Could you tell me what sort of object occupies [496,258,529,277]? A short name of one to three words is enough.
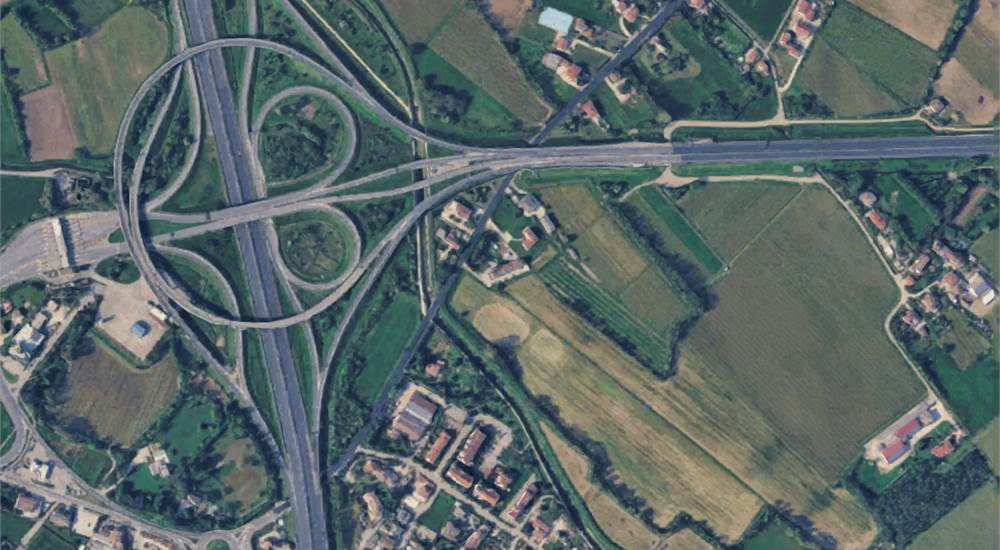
house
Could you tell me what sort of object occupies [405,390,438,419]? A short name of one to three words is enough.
building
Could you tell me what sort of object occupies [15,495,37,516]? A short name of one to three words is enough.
house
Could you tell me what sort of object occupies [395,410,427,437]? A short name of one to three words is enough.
building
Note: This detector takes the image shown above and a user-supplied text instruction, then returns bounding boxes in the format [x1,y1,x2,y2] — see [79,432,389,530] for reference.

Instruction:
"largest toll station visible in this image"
[36,217,86,269]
